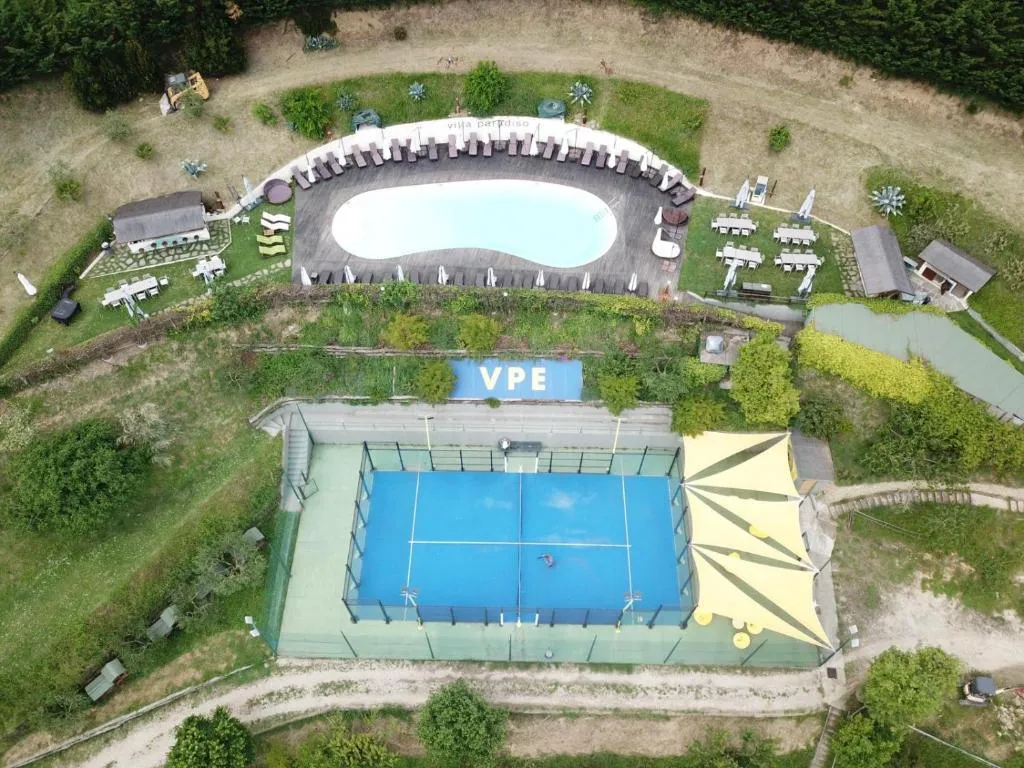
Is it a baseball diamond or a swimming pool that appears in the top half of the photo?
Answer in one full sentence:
The feature located in the top half of the photo is a swimming pool.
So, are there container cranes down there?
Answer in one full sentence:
No, there appears to be no container crane in this shot.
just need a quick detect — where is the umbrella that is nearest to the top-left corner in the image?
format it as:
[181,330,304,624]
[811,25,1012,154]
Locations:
[11,266,38,296]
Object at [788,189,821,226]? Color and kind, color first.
white umbrella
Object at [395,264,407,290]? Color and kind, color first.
white umbrella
